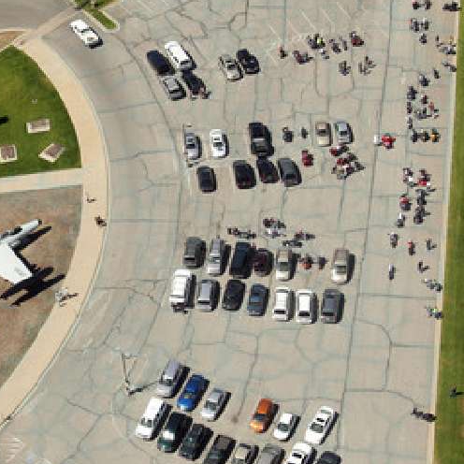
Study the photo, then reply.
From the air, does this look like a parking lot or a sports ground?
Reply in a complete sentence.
This looks like a parking lot.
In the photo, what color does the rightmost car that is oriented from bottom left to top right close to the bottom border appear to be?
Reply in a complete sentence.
The rightmost car that is oriented from bottom left to top right close to the bottom border is white.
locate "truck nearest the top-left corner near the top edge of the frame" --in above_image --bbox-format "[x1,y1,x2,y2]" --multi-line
[72,20,102,48]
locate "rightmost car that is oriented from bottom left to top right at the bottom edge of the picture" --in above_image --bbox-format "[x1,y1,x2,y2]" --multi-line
[303,406,338,447]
